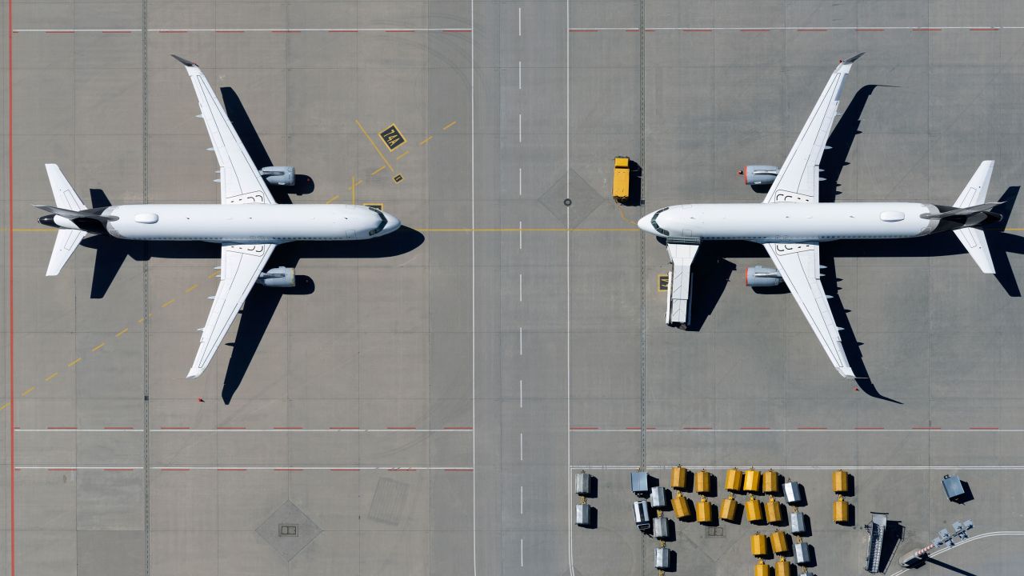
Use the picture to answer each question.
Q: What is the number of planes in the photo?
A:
2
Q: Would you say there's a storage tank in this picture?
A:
No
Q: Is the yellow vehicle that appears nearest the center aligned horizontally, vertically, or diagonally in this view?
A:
vertically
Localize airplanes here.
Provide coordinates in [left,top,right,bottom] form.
[638,54,1008,380]
[31,54,401,380]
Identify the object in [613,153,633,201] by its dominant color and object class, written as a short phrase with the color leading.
yellow vehicle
